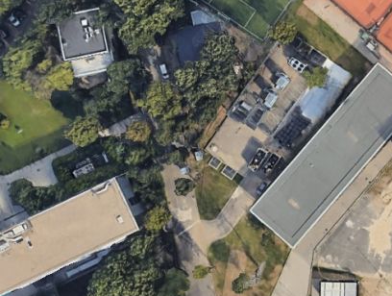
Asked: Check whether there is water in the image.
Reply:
No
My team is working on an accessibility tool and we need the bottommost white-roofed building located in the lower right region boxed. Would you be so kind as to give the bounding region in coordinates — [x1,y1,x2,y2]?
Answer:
[320,279,359,296]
